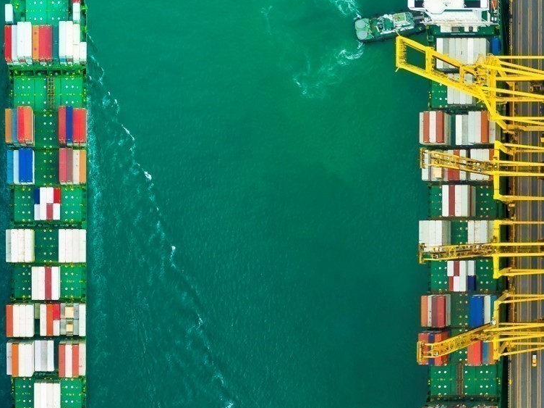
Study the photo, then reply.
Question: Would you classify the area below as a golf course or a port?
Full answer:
What you see here is a port.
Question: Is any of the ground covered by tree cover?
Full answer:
No, tree cover can't be seen anywhere here.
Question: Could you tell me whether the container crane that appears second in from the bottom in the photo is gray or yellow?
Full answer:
From above, the container crane that appears second in from the bottom appears yellow.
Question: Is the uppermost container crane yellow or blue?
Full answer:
From above, the uppermost container crane appears yellow.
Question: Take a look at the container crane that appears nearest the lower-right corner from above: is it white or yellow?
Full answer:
The container crane that appears nearest the lower-right corner looks yellow in the image.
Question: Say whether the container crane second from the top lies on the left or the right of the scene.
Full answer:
You can find the container crane second from the top on the right side of the picture.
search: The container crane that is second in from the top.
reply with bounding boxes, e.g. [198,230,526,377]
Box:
[423,133,544,208]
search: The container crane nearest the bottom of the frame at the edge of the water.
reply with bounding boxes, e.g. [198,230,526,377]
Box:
[420,292,544,364]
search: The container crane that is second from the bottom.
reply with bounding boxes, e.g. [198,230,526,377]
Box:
[420,213,544,285]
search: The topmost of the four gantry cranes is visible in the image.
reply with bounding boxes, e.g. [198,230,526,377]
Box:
[397,32,544,134]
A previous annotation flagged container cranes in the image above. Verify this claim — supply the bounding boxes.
[420,213,544,285]
[397,32,544,134]
[423,133,544,208]
[420,292,544,364]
